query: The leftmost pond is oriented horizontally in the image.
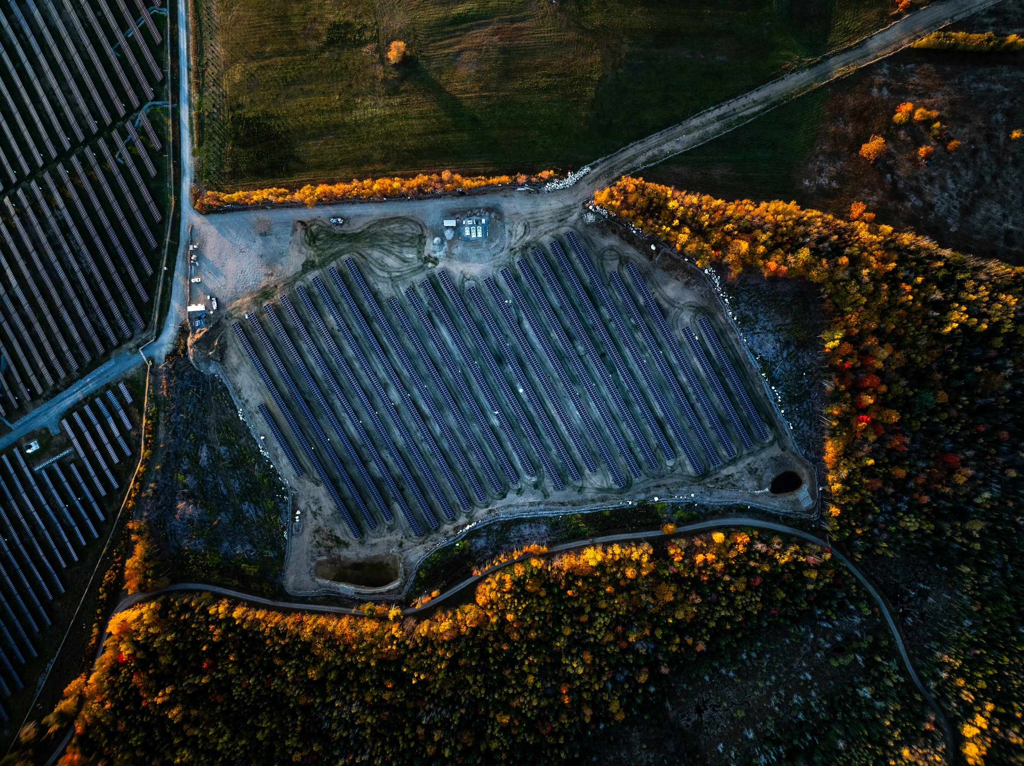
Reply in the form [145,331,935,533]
[313,555,401,588]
